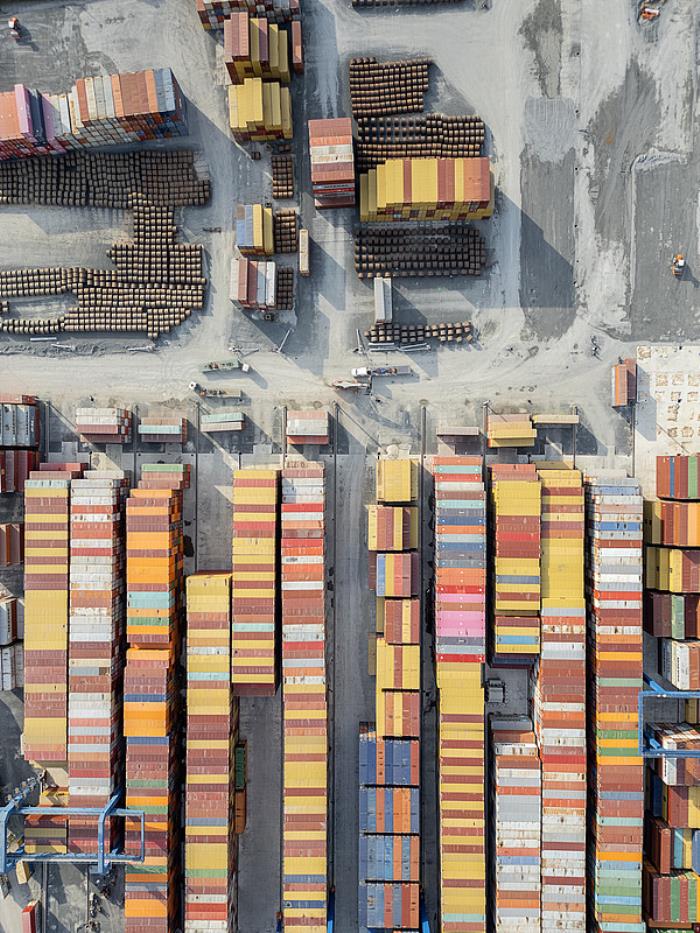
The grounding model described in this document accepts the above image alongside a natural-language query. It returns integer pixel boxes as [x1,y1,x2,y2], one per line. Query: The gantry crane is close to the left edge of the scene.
[0,774,145,875]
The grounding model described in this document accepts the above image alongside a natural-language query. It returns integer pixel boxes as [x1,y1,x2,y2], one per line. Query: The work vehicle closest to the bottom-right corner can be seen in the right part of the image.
[487,682,503,702]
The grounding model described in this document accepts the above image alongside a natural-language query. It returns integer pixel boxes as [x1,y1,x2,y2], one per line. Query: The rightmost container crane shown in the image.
[638,674,700,766]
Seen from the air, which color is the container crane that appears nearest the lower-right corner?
blue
